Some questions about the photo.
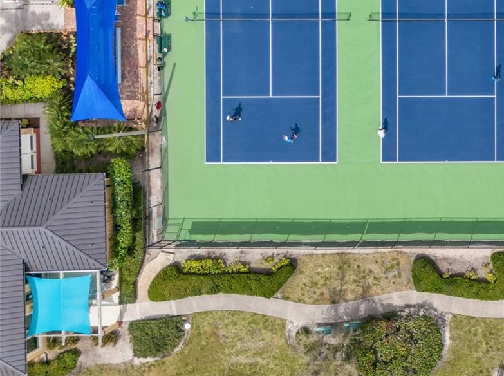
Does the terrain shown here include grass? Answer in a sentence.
Yes, there's grass in this view.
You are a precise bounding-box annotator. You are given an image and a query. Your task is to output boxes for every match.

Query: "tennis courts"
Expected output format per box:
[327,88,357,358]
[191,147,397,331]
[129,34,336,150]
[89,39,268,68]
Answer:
[380,0,504,163]
[204,0,336,163]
